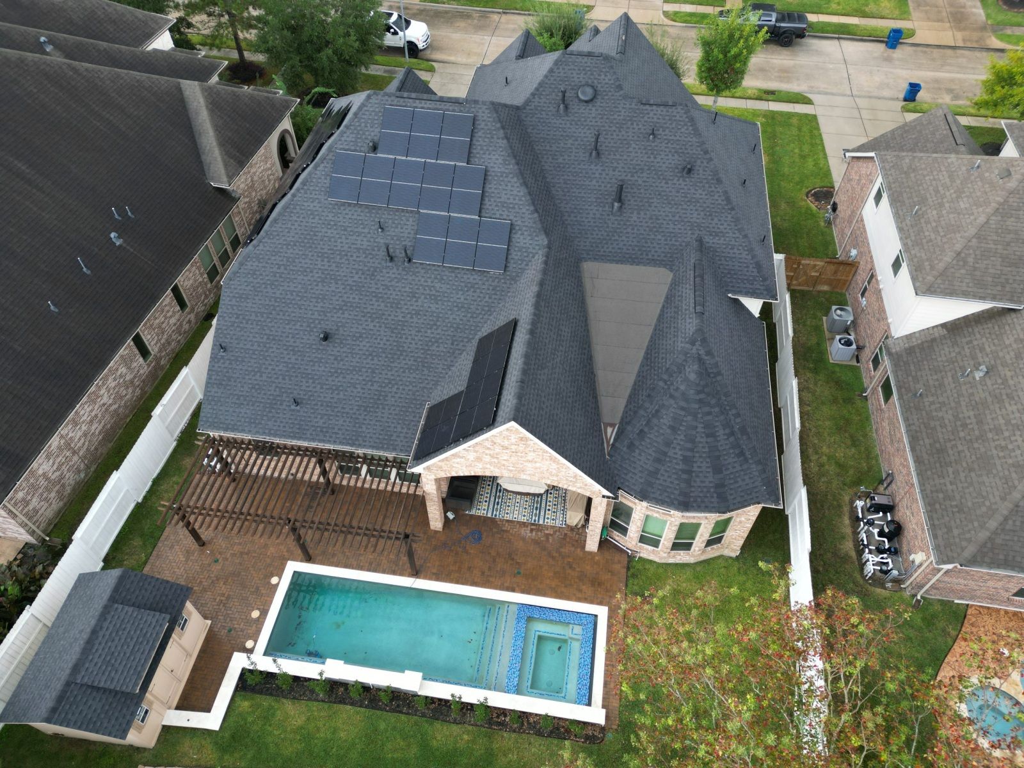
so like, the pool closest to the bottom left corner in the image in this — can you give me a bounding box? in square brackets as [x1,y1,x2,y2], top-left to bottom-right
[159,560,609,731]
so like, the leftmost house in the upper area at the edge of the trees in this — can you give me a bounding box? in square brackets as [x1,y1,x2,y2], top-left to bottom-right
[0,0,301,547]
